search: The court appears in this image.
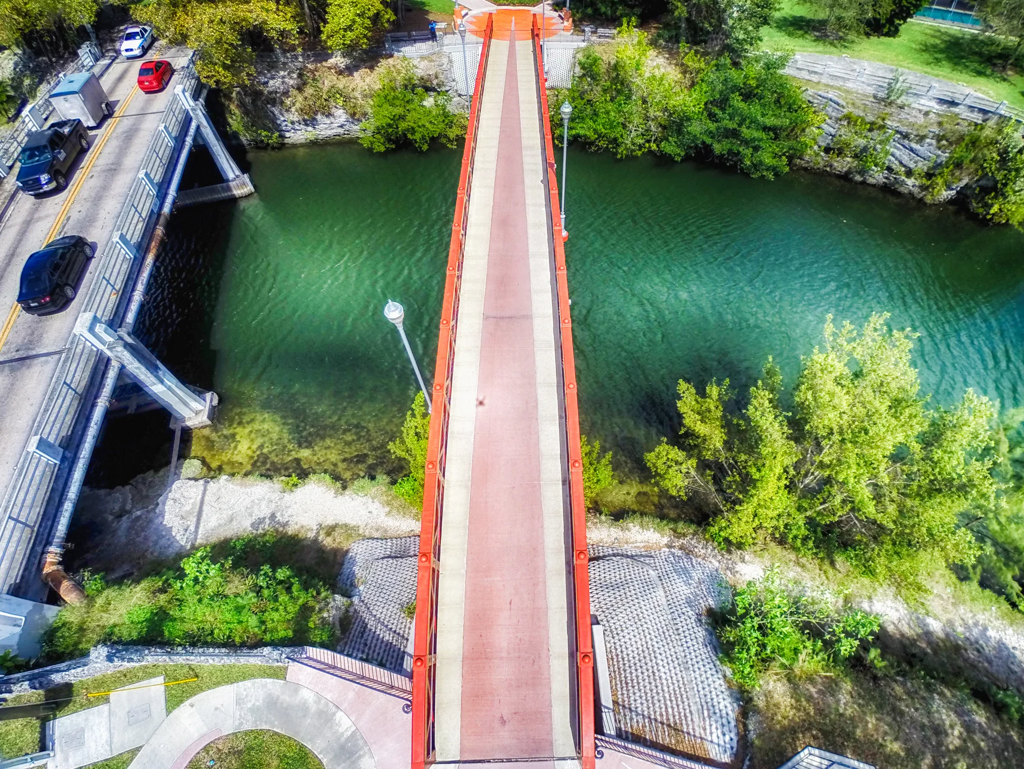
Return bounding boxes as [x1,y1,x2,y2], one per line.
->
[906,0,998,51]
